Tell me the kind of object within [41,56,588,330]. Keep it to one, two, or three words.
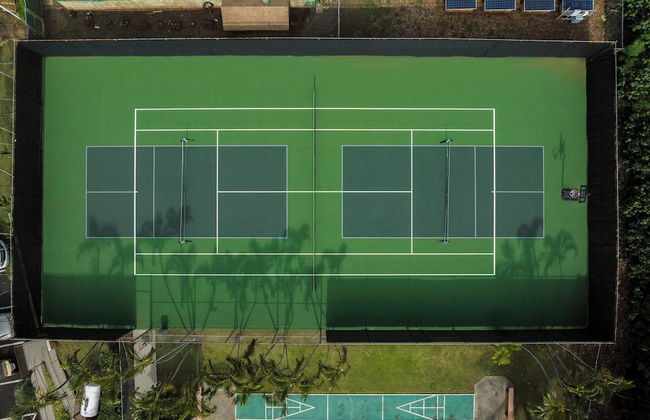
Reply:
tennis court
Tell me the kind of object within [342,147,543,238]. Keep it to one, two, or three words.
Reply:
sports court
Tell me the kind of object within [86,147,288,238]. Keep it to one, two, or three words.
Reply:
sports court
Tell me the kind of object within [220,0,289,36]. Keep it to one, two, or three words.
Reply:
shed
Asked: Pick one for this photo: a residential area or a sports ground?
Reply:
sports ground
